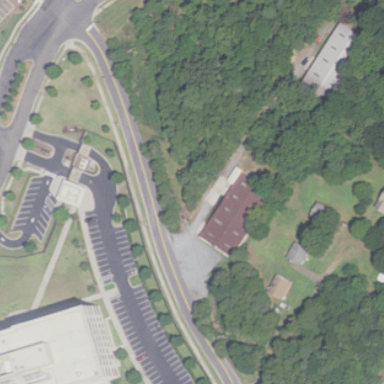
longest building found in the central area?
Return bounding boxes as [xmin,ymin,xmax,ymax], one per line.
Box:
[199,172,261,256]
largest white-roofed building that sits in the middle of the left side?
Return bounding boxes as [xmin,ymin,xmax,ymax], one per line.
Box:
[56,180,89,207]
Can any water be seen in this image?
No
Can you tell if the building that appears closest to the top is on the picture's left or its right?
right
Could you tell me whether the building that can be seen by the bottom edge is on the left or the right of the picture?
left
